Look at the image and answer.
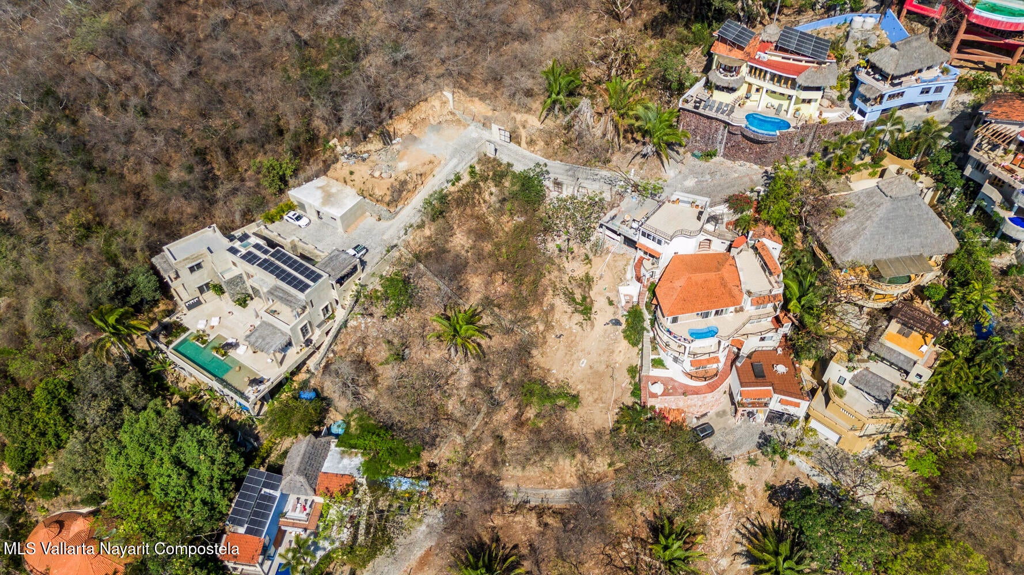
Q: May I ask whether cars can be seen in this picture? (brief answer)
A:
Yes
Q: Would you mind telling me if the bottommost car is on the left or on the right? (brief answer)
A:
right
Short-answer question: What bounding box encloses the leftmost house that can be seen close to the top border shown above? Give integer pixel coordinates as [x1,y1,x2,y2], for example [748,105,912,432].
[705,19,836,118]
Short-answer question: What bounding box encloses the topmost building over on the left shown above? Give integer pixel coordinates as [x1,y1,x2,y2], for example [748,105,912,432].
[286,175,365,235]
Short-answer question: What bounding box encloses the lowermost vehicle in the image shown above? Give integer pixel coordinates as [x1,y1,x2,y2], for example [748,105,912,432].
[690,413,720,443]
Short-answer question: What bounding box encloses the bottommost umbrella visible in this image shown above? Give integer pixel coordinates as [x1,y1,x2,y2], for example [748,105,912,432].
[246,371,260,386]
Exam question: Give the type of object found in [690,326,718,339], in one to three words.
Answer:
swimming pool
